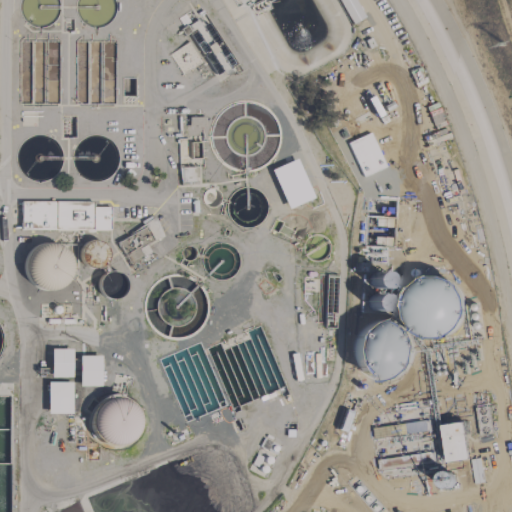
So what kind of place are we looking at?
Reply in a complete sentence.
The picture captures an industrial area.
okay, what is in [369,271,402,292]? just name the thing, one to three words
silo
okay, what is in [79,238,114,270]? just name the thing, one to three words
storage tank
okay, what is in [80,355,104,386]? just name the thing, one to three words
shed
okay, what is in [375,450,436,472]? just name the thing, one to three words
building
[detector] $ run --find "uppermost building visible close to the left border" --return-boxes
[22,200,112,230]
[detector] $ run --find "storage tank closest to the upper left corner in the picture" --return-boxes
[20,0,70,32]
